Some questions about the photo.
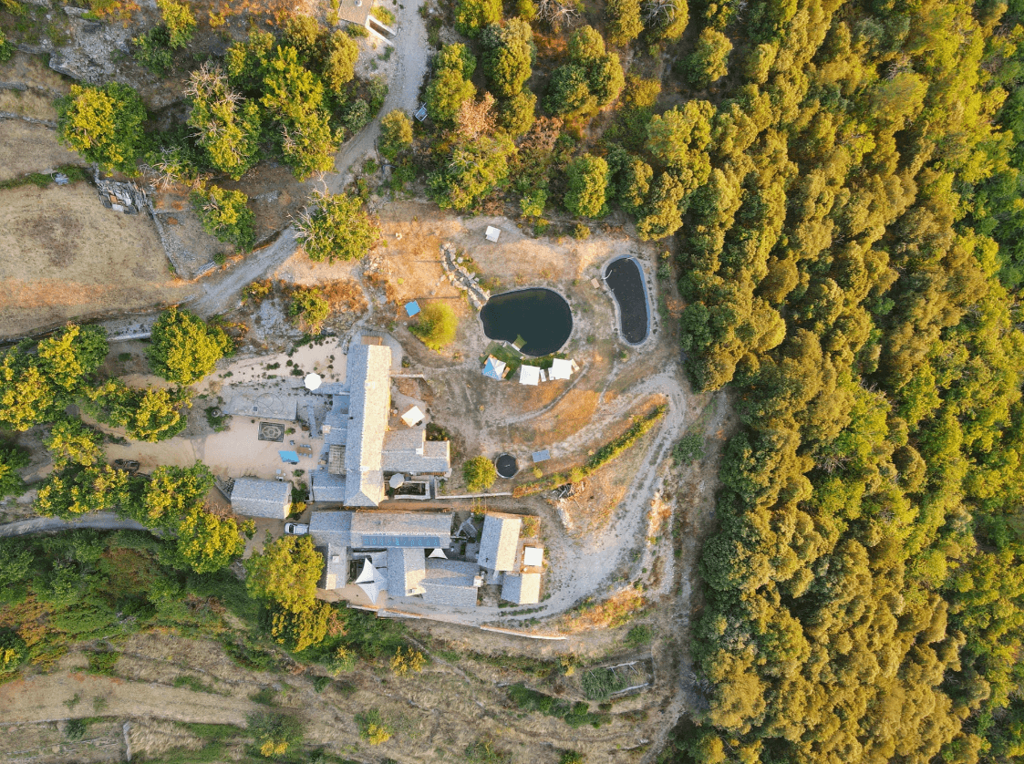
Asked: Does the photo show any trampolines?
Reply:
Yes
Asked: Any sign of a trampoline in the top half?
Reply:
No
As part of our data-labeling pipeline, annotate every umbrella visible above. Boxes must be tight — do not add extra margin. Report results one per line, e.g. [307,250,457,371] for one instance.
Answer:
[390,474,404,488]
[305,374,321,390]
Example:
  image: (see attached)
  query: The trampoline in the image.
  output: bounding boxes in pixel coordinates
[495,454,519,479]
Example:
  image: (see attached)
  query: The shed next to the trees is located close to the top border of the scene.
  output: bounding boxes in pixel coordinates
[338,0,379,34]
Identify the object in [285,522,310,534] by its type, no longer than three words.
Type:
vehicle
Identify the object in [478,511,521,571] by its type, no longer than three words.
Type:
house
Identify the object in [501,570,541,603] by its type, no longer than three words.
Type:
house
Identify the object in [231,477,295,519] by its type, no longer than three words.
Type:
building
